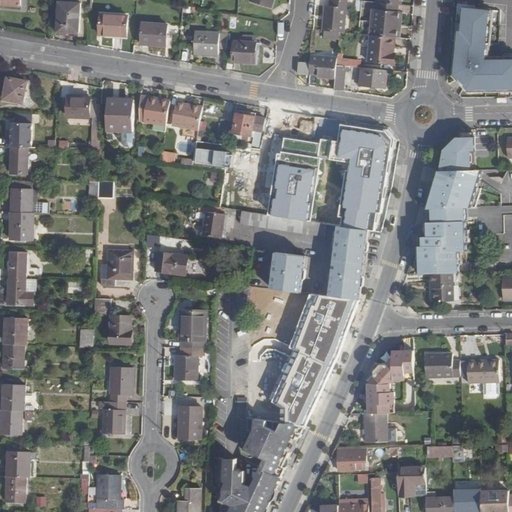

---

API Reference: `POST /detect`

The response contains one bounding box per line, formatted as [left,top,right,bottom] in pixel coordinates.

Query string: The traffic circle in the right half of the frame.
[399,90,448,140]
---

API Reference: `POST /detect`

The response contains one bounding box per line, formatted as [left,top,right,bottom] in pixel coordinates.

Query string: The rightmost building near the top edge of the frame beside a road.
[450,2,512,103]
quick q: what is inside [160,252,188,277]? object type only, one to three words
house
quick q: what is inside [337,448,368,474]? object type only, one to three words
house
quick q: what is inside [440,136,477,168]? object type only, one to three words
building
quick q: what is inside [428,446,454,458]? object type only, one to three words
shed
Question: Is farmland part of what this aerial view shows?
No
